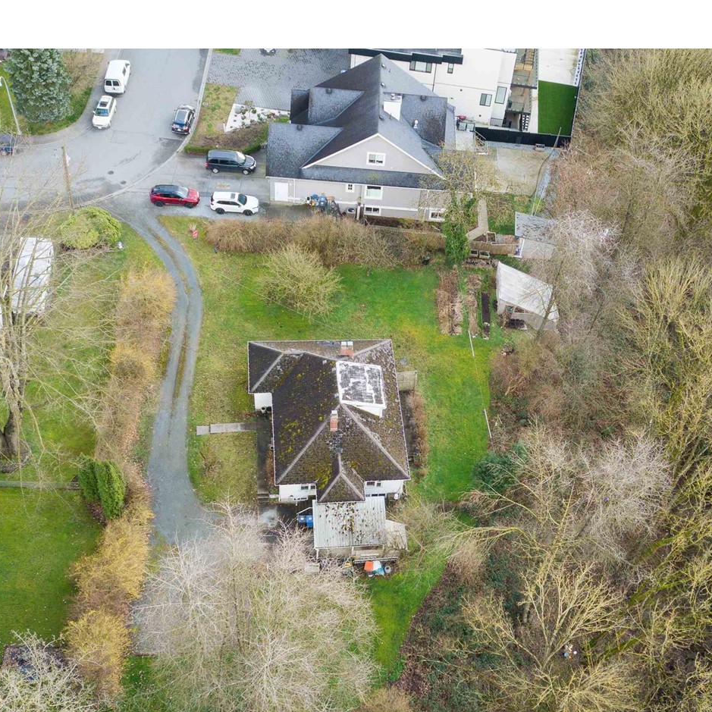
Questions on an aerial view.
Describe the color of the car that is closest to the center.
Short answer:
white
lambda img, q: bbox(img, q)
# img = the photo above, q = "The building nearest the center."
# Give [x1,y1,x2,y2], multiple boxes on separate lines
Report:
[246,340,409,513]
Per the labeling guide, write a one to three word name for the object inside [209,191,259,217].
car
